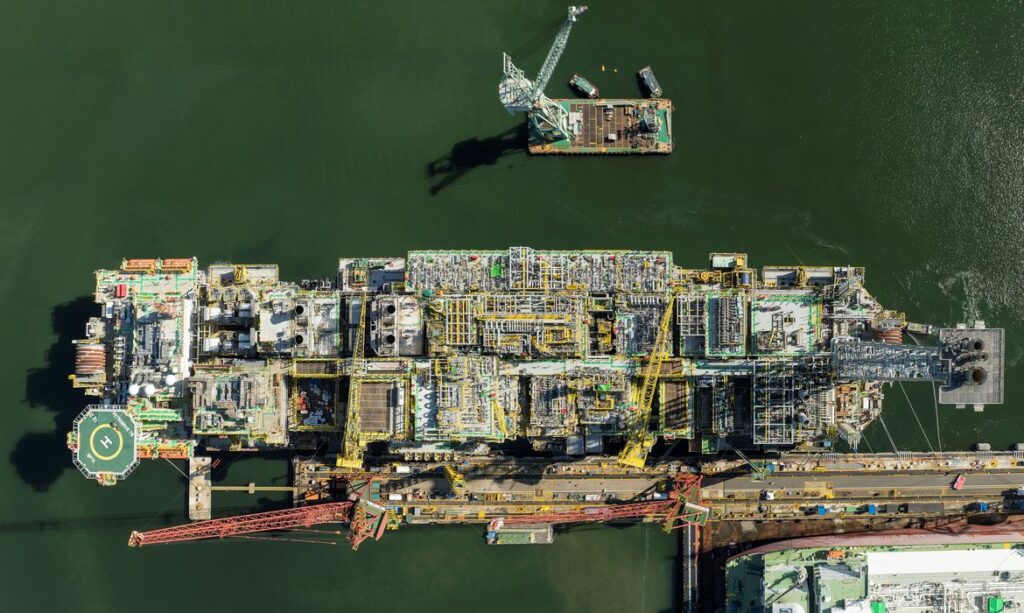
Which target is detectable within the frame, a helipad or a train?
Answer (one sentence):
It is a helipad that can be seen here.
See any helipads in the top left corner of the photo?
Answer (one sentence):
No, no helipad is visible in the top left corner of the photo.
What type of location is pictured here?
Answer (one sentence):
This looks like a port.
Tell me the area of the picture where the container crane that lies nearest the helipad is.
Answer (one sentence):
The container crane that lies nearest the helipad appears toward the bottom left of the photo.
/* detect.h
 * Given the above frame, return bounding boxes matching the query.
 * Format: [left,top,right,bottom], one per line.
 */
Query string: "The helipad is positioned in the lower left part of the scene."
[65,404,155,488]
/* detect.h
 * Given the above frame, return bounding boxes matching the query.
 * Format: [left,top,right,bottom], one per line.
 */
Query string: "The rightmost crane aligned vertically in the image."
[618,290,678,470]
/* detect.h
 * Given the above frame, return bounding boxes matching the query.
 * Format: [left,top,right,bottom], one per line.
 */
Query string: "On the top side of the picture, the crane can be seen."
[499,3,588,142]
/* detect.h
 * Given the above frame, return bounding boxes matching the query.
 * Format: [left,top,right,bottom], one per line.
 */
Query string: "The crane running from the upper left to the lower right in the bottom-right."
[731,445,770,482]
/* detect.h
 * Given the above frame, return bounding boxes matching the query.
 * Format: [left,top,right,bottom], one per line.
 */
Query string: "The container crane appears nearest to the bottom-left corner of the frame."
[121,474,388,548]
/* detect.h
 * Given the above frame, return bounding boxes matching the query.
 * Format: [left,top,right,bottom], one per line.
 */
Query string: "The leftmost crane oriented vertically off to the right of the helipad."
[335,289,369,475]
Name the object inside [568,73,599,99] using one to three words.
boat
